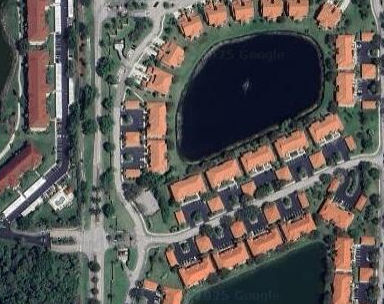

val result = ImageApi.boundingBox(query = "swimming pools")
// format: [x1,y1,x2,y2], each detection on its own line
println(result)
[49,188,74,210]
